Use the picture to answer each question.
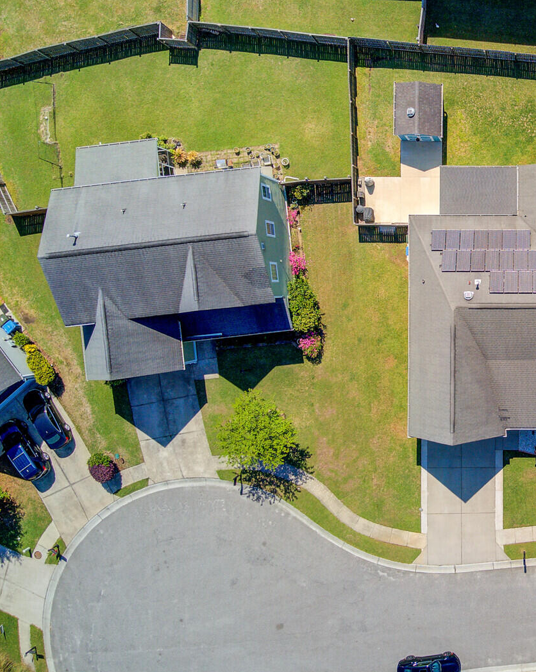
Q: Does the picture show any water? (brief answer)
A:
No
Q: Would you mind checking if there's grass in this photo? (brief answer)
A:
Yes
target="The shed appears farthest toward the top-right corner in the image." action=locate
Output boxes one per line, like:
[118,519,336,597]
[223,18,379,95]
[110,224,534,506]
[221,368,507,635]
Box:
[393,79,443,142]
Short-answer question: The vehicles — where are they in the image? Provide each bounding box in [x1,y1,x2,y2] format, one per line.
[397,651,461,672]
[0,418,49,483]
[20,386,71,450]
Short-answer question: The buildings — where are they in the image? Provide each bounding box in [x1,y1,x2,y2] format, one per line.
[393,79,443,142]
[0,325,42,407]
[408,164,536,446]
[35,140,300,382]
